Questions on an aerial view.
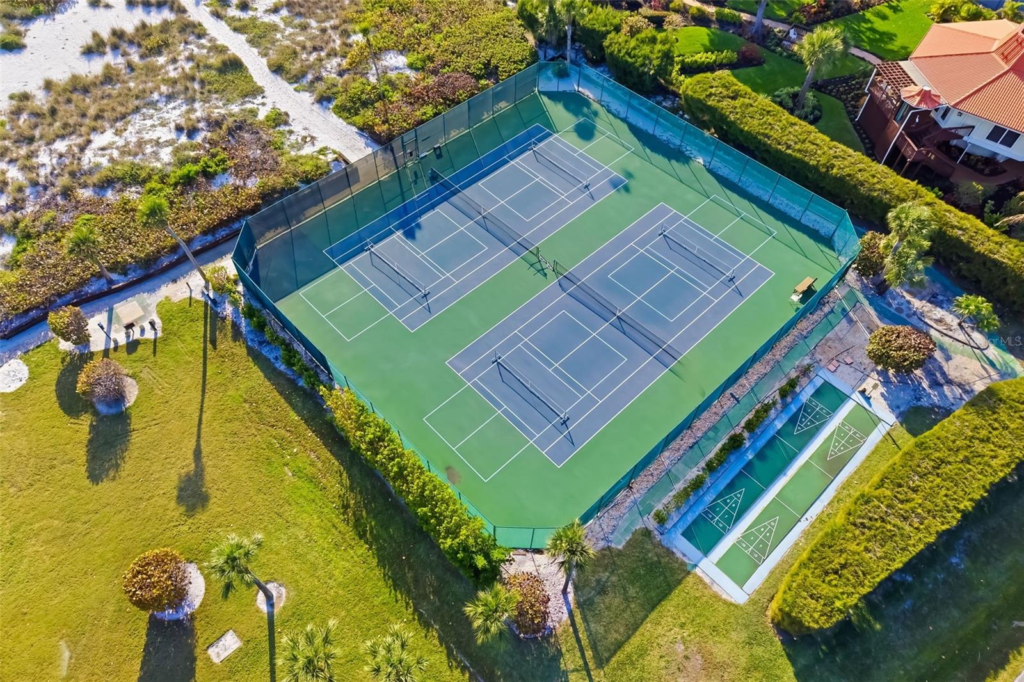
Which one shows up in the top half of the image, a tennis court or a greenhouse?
tennis court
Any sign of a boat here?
No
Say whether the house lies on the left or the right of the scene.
right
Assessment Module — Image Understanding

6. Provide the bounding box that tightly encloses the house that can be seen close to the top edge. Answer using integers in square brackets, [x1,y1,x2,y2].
[853,18,1024,198]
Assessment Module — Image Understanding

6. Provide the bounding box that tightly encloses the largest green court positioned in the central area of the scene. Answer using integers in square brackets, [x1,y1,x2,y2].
[248,91,843,550]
